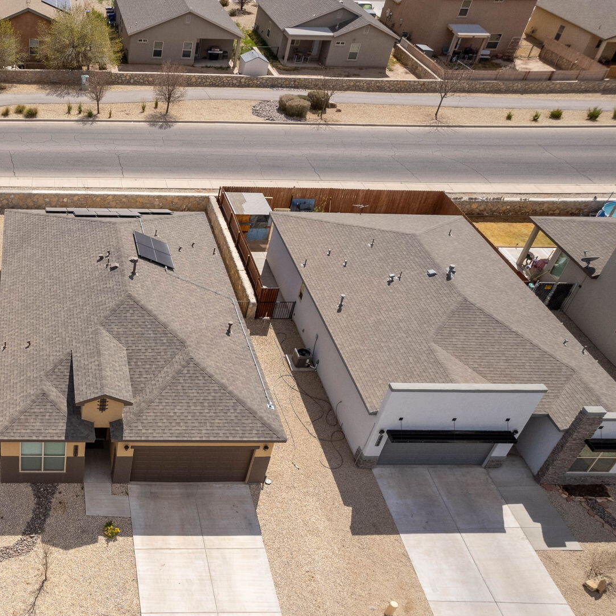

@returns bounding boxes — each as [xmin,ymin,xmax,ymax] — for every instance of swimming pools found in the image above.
[594,202,616,216]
